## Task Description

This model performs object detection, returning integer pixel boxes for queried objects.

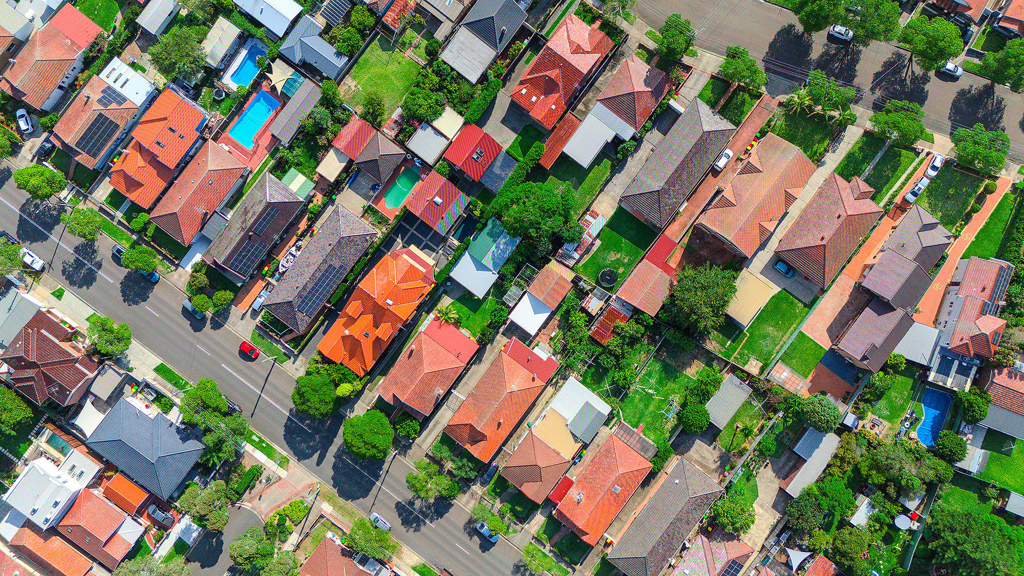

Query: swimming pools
[448,209,481,245]
[382,162,422,211]
[228,43,269,90]
[226,87,282,152]
[41,430,76,460]
[915,386,954,447]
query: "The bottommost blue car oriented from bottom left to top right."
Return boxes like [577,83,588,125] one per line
[478,459,503,487]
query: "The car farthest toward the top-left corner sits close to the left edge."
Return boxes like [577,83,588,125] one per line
[17,107,35,137]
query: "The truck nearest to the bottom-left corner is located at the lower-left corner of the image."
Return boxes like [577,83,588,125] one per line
[144,501,177,527]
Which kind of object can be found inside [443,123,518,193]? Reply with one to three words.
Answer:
shed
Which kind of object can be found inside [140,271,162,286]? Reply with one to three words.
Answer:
car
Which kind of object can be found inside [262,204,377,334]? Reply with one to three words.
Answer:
house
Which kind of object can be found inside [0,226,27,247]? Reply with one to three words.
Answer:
car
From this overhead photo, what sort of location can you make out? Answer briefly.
residential area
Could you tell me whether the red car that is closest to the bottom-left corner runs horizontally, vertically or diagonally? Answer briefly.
diagonally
